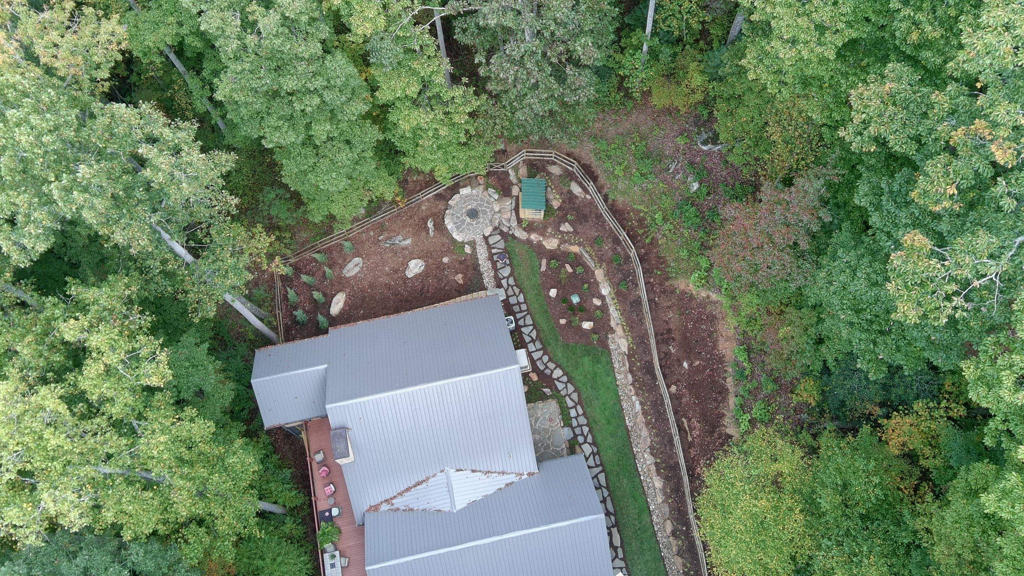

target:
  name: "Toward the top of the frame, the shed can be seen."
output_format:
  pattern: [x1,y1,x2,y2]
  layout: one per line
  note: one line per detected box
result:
[519,178,546,220]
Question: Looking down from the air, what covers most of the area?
trees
